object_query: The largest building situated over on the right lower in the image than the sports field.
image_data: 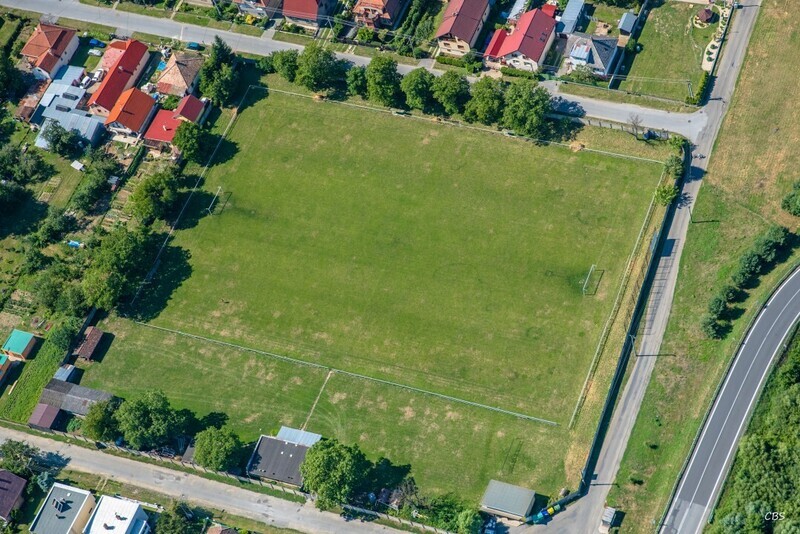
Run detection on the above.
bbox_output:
[482,479,534,522]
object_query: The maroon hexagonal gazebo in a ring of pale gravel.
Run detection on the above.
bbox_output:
[695,7,713,26]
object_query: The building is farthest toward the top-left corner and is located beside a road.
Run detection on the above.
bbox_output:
[20,23,76,80]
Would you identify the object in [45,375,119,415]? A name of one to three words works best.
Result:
barn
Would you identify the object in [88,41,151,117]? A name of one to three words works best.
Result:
house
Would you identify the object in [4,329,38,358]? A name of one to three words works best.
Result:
building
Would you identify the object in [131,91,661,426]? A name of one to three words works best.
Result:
sports field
